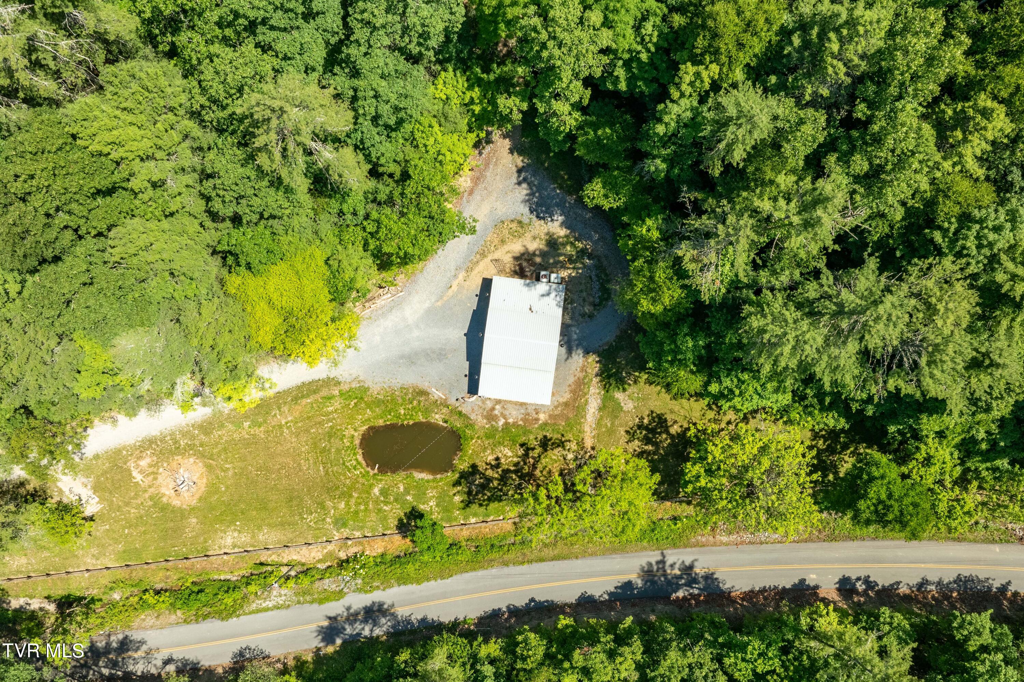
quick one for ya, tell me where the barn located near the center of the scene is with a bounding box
[475,276,565,404]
